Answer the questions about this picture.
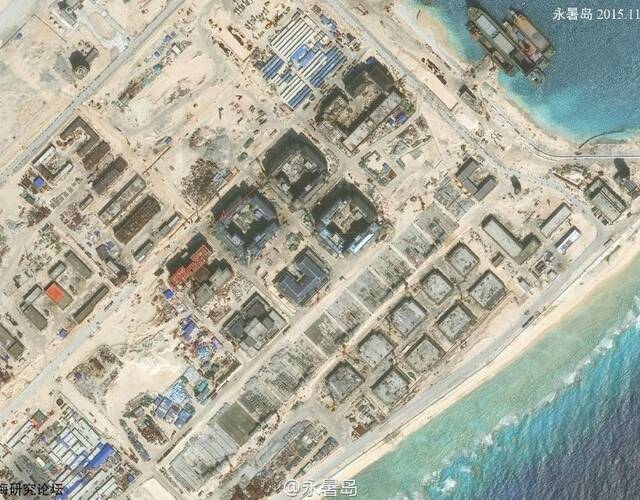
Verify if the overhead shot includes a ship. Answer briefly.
Yes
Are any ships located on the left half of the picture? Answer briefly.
No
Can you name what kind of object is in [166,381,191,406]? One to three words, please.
shed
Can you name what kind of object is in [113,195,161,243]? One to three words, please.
building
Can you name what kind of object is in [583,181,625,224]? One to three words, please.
building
